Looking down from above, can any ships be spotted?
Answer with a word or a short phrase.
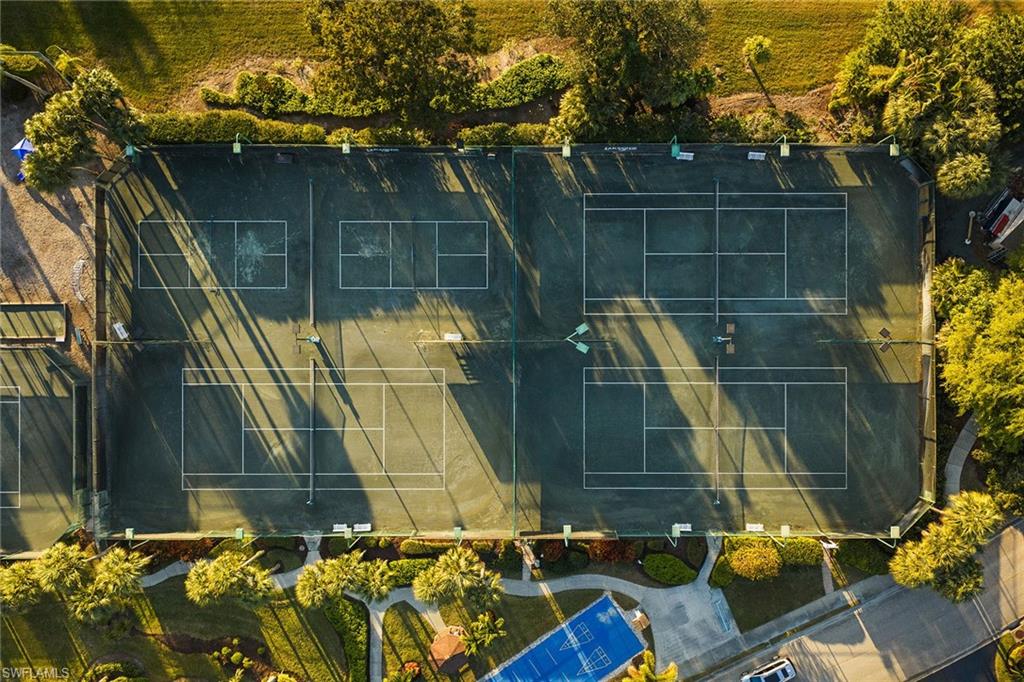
No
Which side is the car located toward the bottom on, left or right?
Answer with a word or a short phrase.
right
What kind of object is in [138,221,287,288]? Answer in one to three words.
sports court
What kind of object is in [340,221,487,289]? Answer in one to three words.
sports court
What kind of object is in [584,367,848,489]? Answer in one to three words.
tennis court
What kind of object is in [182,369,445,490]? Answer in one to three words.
tennis court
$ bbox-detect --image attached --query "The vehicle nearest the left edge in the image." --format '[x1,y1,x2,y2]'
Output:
[743,657,797,682]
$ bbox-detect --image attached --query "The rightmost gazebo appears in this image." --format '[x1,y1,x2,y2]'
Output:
[427,622,474,674]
